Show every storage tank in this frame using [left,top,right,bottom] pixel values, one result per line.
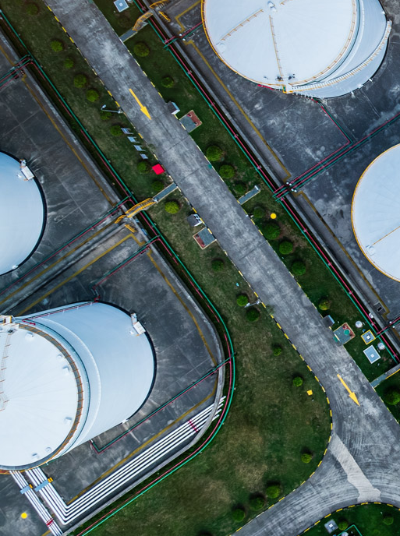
[202,0,391,99]
[0,150,46,277]
[349,142,400,285]
[0,301,154,482]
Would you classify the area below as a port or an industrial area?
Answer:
industrial area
